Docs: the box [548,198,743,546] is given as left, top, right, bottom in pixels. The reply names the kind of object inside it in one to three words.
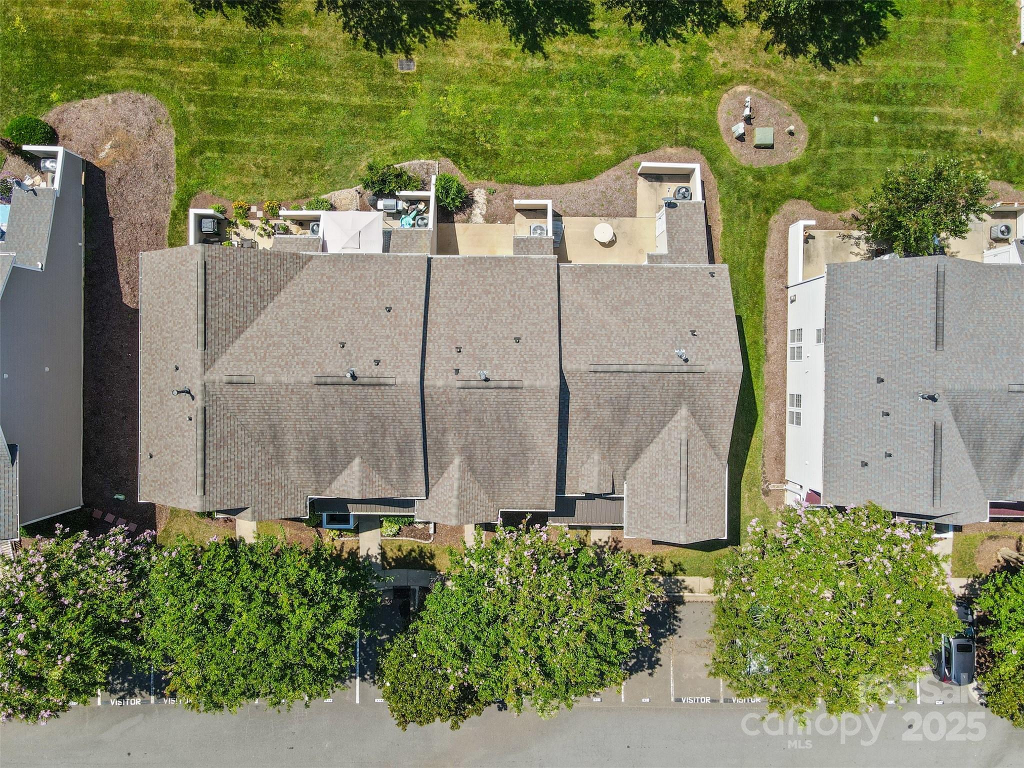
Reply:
house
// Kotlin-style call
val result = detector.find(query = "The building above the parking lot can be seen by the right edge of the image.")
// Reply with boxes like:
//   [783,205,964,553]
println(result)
[781,237,1024,530]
